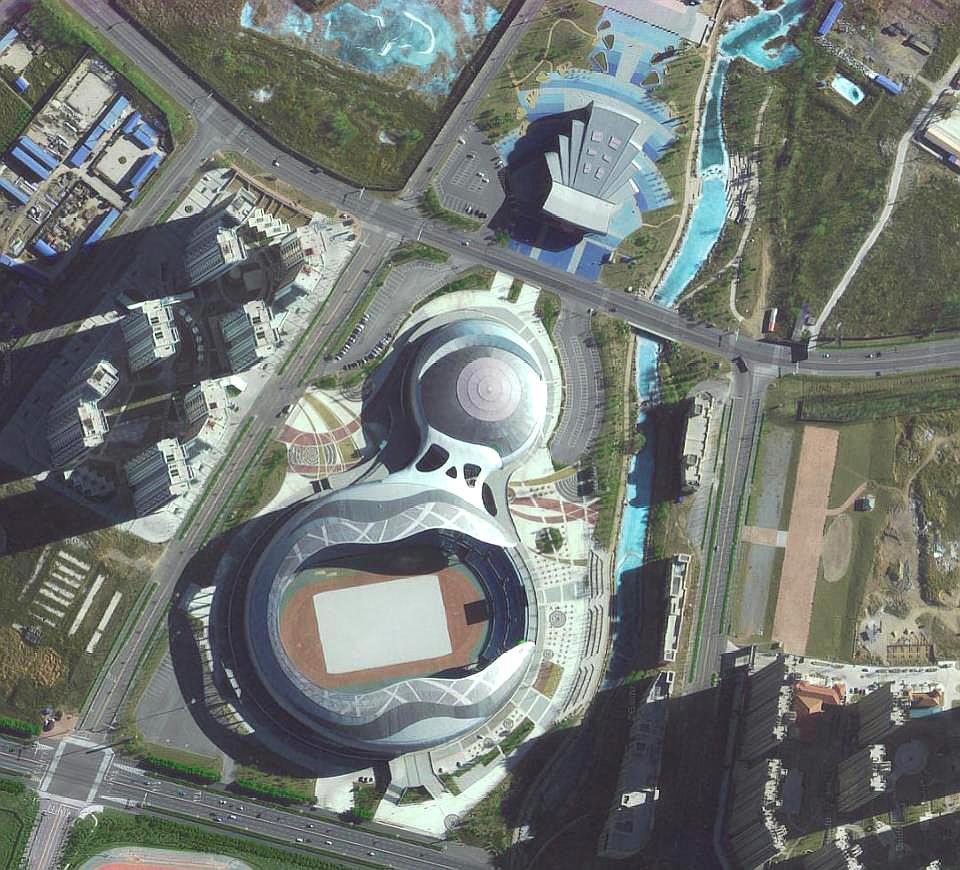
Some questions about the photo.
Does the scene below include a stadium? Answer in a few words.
Yes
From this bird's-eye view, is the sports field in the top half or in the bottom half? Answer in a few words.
bottom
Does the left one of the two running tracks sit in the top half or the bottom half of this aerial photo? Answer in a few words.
bottom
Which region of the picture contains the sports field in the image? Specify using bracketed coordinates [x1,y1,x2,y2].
[313,575,453,674]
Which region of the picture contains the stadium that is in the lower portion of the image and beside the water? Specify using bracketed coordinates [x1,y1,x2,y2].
[226,480,538,759]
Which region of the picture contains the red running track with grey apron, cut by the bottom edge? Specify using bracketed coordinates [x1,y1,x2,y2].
[79,847,280,870]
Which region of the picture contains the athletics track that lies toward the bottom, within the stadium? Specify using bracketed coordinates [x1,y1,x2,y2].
[280,562,488,687]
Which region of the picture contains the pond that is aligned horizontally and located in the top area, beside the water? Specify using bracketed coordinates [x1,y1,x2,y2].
[232,0,514,98]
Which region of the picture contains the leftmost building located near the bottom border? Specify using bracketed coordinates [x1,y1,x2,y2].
[591,672,676,862]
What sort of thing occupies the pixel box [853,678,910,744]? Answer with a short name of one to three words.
building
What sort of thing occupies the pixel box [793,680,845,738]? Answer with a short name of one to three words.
house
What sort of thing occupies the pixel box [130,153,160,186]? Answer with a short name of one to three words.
shed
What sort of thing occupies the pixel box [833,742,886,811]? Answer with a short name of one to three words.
building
